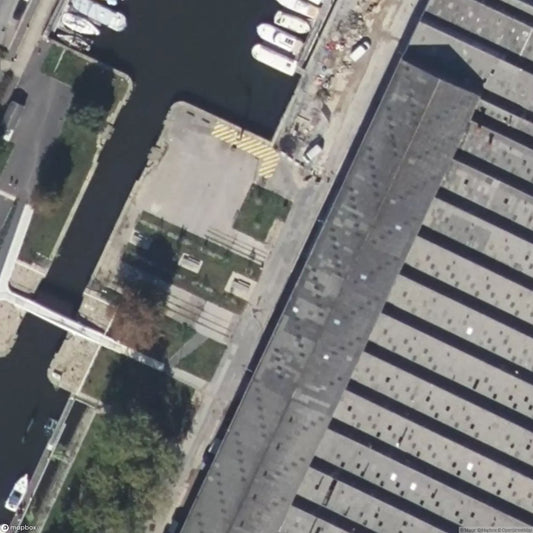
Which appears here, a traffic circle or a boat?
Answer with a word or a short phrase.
boat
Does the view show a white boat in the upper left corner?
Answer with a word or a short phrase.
Yes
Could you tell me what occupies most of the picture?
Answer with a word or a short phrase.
buildings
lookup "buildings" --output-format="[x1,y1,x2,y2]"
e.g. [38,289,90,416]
[176,0,533,533]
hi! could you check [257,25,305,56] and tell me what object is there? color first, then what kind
white boat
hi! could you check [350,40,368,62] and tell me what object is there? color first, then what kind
white vehicle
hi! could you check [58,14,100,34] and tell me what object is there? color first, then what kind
white boat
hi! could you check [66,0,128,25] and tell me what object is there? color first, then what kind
white ship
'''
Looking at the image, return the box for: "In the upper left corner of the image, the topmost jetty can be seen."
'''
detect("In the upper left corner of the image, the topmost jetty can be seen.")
[46,0,71,34]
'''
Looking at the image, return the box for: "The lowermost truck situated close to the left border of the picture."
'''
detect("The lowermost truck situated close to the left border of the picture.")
[2,100,24,139]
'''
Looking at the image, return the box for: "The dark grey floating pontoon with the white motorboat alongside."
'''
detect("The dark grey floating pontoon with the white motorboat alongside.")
[4,445,54,533]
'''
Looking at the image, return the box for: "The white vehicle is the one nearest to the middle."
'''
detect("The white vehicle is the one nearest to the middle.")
[302,143,323,163]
